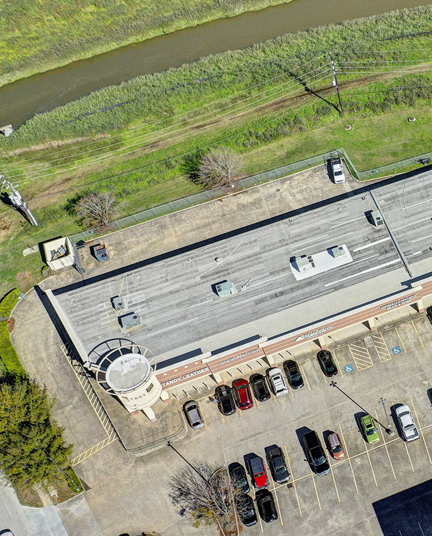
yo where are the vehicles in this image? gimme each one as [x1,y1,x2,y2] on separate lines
[217,385,237,417]
[283,359,305,391]
[248,455,271,490]
[267,445,291,485]
[360,415,380,445]
[318,350,340,379]
[327,431,346,463]
[234,379,254,411]
[255,488,279,524]
[327,155,346,184]
[250,372,272,404]
[228,462,253,496]
[301,430,330,474]
[237,494,260,531]
[268,368,290,398]
[184,401,205,430]
[396,404,420,444]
